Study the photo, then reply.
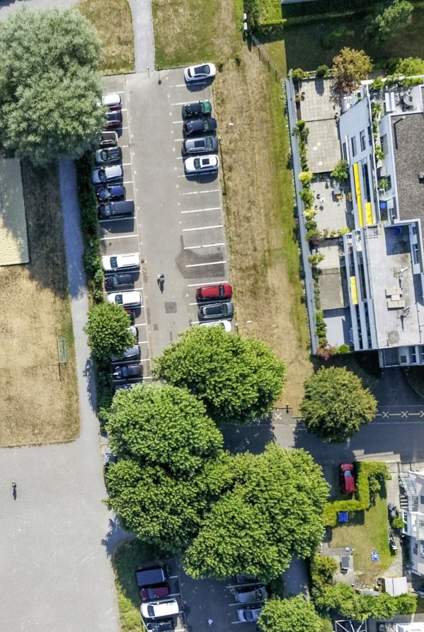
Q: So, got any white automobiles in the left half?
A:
Yes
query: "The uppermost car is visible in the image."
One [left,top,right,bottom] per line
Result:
[182,65,215,83]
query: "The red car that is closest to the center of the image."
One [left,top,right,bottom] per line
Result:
[195,283,230,302]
